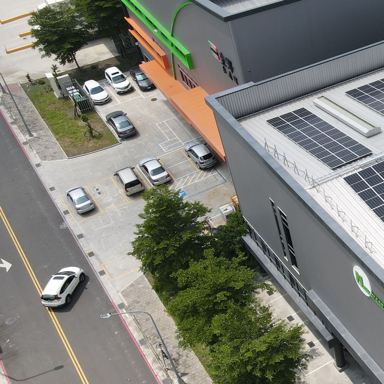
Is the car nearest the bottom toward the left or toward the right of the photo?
left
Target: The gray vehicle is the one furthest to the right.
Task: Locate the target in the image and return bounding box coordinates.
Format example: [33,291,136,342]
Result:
[182,139,215,169]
